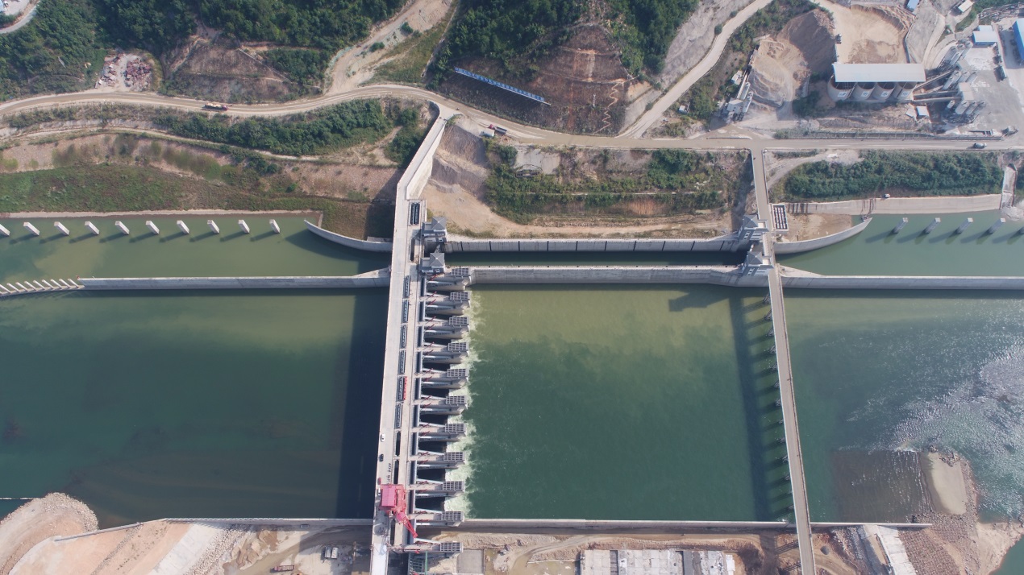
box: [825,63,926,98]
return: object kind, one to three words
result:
house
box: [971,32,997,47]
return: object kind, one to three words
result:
shed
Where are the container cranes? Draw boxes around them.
[380,483,418,539]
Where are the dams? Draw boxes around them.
[368,197,470,575]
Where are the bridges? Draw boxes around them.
[751,148,819,575]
